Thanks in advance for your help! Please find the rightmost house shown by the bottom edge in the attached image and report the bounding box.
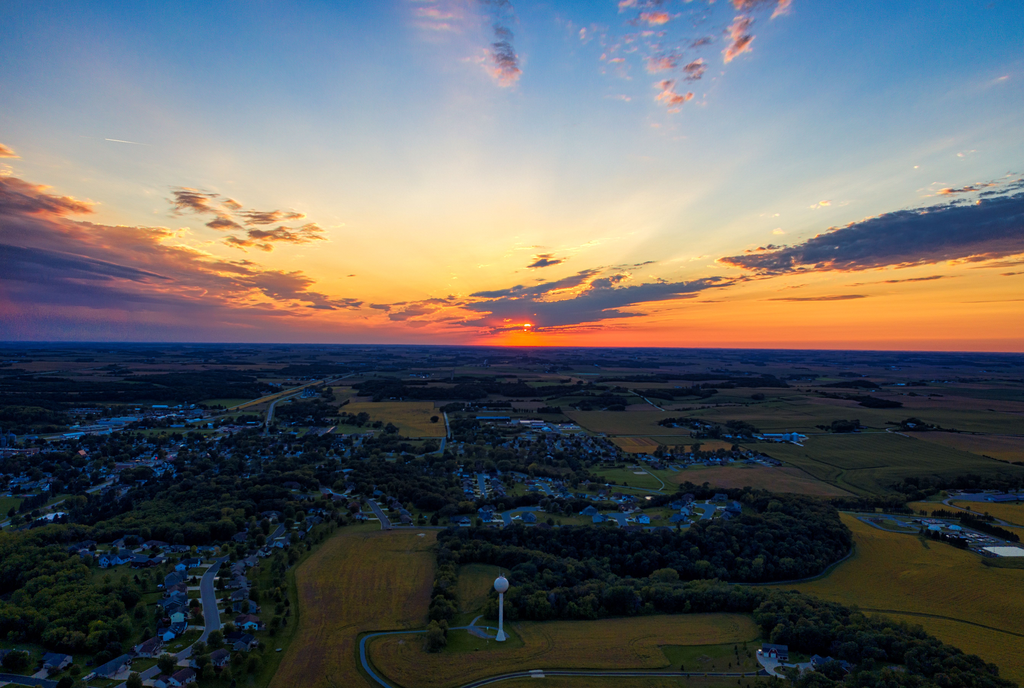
[803,653,845,671]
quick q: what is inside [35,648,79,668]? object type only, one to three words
house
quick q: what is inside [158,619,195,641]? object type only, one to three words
house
